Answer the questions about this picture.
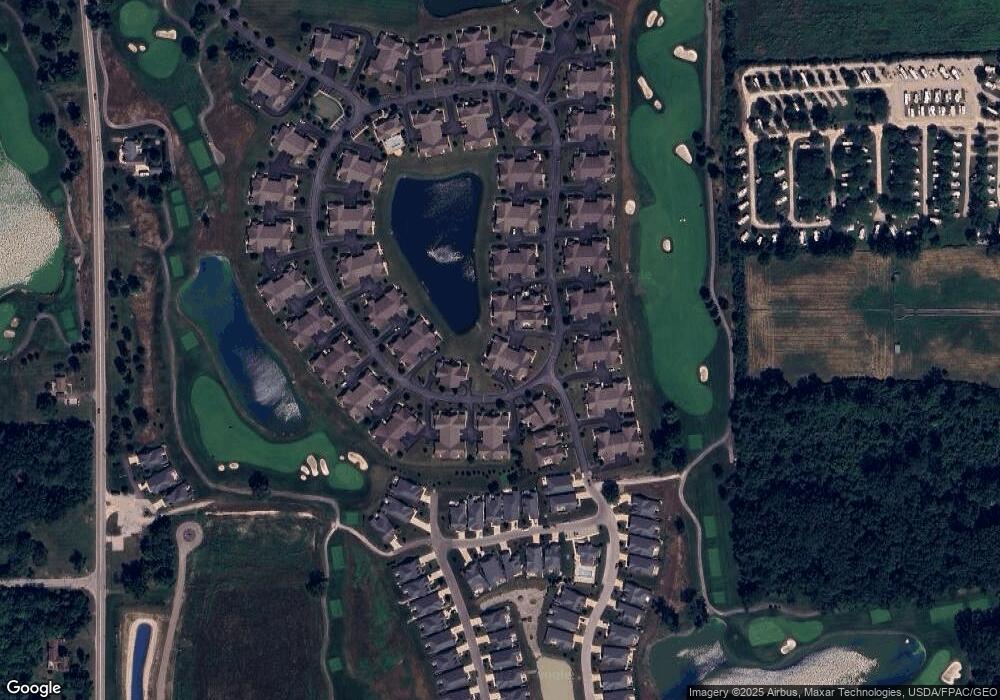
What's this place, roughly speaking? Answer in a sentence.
This looks like a residential area.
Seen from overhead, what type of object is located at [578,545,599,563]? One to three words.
building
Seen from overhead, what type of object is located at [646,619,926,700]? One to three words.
pond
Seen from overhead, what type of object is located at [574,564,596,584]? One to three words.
swimming pool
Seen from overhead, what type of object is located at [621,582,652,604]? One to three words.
house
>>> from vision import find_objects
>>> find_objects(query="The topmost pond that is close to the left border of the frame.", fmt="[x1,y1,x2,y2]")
[0,156,61,297]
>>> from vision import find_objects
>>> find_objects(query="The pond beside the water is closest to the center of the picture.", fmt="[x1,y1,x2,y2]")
[391,173,482,334]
